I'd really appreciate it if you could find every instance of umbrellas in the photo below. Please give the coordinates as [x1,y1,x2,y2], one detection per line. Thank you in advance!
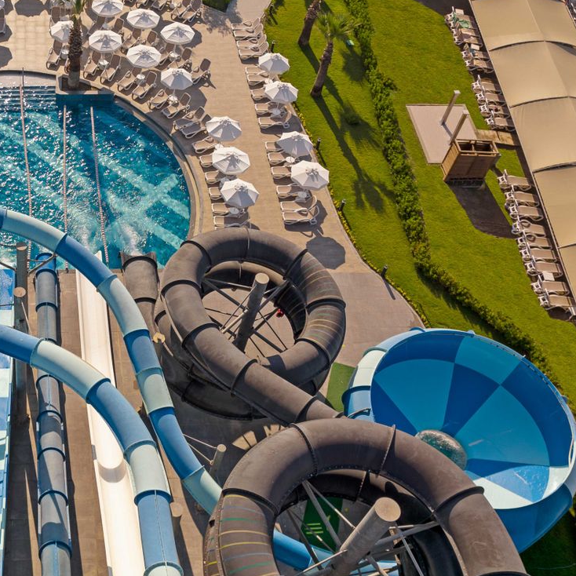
[88,34,122,66]
[158,67,194,100]
[160,26,194,56]
[92,0,124,26]
[256,52,292,85]
[206,116,243,150]
[212,147,251,182]
[125,11,159,41]
[263,82,300,115]
[290,164,330,198]
[276,131,312,165]
[126,47,162,80]
[220,181,260,215]
[47,23,71,52]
